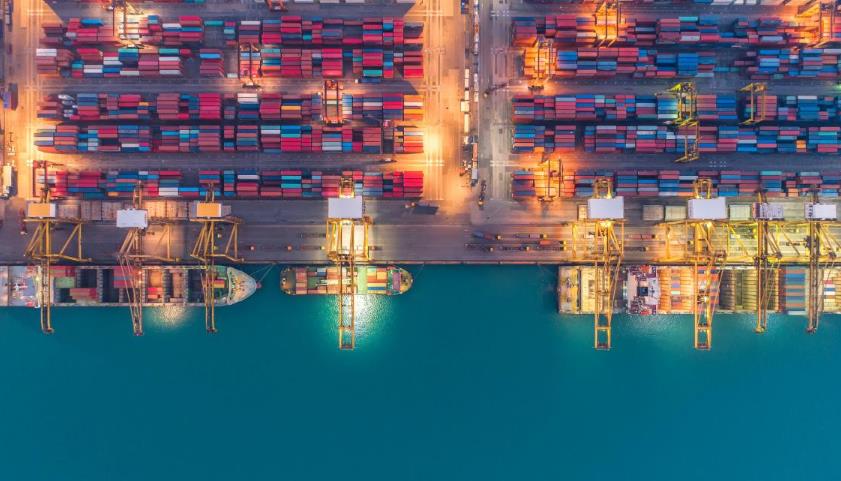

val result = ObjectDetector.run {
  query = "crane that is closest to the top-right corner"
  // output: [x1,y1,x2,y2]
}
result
[793,1,834,49]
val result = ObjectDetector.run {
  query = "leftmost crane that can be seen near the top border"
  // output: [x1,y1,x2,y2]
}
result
[113,1,147,49]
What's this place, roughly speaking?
port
